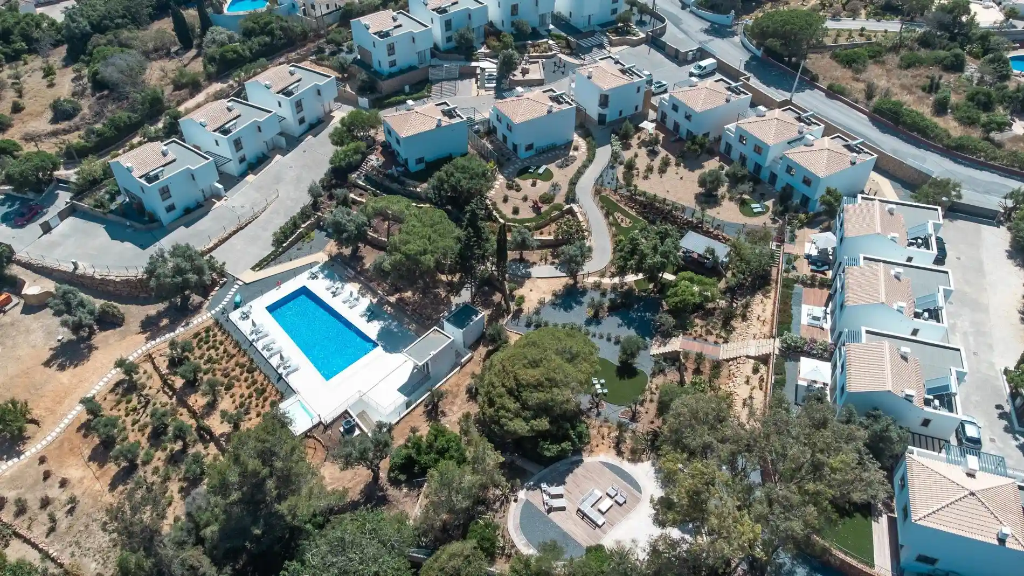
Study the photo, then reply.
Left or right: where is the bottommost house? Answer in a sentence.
You can find the bottommost house on the right side of the picture.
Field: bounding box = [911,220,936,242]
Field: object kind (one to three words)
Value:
solar panel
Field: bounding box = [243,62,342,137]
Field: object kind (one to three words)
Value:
house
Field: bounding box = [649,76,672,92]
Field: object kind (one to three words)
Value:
car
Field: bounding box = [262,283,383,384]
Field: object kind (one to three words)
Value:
swimming pool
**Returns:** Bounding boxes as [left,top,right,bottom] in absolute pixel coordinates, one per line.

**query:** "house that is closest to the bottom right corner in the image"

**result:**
[889,441,1024,576]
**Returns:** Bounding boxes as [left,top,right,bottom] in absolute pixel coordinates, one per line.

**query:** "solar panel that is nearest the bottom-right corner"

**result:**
[929,368,961,396]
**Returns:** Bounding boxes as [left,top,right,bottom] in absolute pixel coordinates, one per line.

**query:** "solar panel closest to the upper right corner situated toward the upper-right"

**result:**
[842,134,867,152]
